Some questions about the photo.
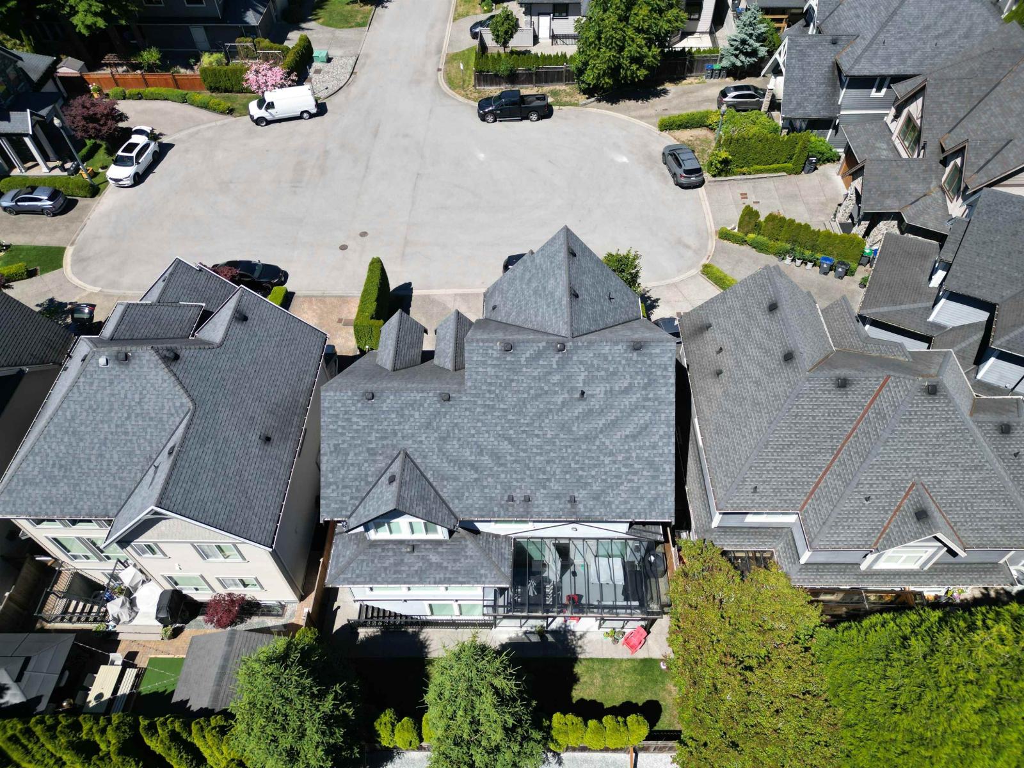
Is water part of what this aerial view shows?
No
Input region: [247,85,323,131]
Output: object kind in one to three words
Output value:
van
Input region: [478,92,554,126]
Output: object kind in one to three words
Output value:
truck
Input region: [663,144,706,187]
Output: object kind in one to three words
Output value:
car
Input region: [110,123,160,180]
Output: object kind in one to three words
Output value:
car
